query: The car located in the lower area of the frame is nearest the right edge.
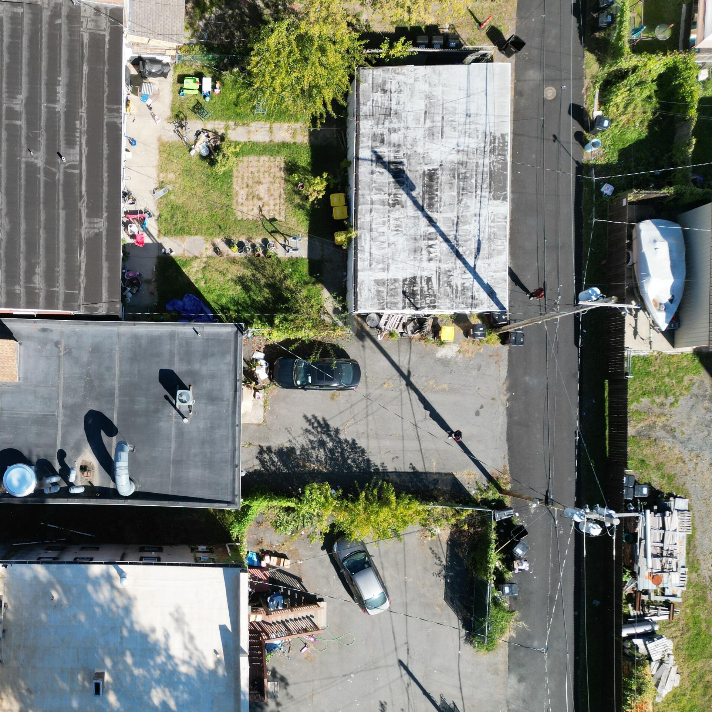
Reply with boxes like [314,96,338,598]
[334,530,391,620]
